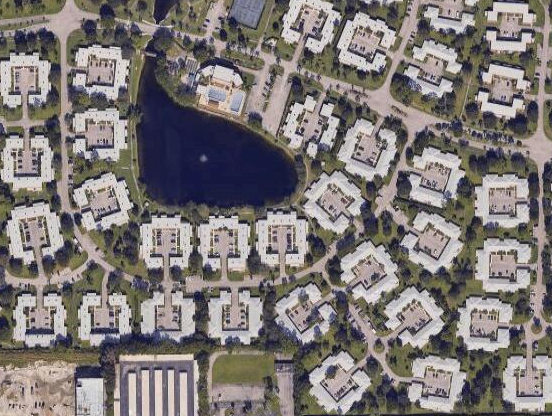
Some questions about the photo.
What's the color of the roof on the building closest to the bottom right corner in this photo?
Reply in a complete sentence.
The color of the roof on the building closest to the bottom right corner is white.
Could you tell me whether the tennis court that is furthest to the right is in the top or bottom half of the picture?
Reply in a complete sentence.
You can find the tennis court that is furthest to the right in the top half.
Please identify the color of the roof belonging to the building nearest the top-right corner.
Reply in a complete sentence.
The color of the roof on the building nearest the top-right corner is white.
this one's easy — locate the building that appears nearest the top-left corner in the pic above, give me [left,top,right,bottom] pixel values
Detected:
[0,54,51,107]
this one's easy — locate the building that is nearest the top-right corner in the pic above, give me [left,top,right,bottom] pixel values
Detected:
[487,0,536,53]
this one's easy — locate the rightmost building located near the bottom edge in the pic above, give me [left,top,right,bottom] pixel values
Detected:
[503,357,552,411]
